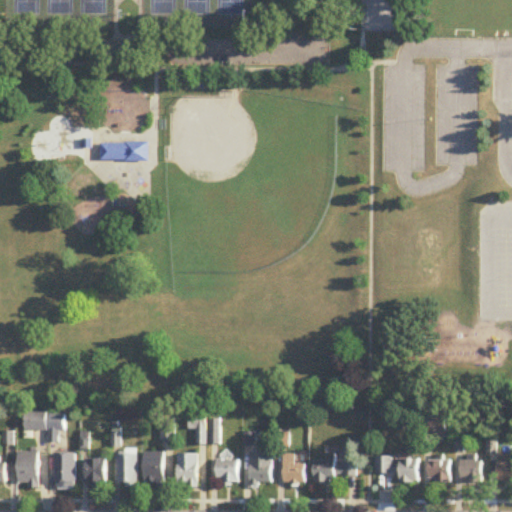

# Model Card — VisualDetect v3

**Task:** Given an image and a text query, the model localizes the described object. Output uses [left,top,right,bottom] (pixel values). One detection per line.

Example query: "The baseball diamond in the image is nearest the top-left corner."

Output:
[164,88,338,292]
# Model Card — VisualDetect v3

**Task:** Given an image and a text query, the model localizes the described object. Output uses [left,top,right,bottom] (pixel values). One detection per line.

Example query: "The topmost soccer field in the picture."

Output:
[434,0,512,36]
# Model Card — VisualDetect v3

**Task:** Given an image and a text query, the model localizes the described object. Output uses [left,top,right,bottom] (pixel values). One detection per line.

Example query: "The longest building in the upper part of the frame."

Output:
[101,142,148,161]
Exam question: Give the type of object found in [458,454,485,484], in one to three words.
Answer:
house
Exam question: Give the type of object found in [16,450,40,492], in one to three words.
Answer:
house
